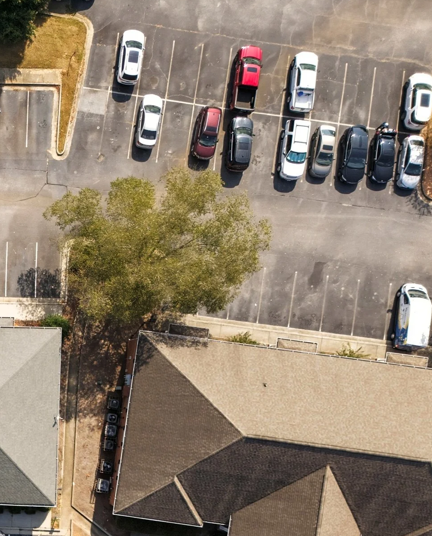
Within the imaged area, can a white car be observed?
Yes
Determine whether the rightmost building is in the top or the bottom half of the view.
bottom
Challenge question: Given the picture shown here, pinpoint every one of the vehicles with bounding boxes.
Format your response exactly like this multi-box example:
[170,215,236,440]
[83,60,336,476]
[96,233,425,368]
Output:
[395,133,429,191]
[278,117,313,183]
[337,123,373,186]
[223,116,257,173]
[288,50,323,114]
[231,44,266,115]
[369,128,402,185]
[392,282,432,349]
[402,72,432,130]
[116,28,147,85]
[307,124,339,180]
[135,94,164,150]
[191,104,224,161]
